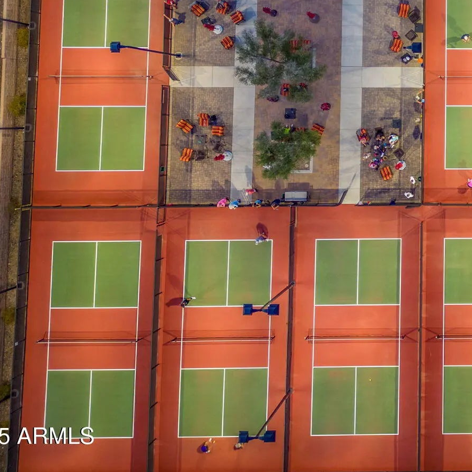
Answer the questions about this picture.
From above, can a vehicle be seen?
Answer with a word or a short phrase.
No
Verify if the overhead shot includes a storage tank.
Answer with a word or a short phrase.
No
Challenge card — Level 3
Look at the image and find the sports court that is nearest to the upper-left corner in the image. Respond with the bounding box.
[33,0,172,205]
